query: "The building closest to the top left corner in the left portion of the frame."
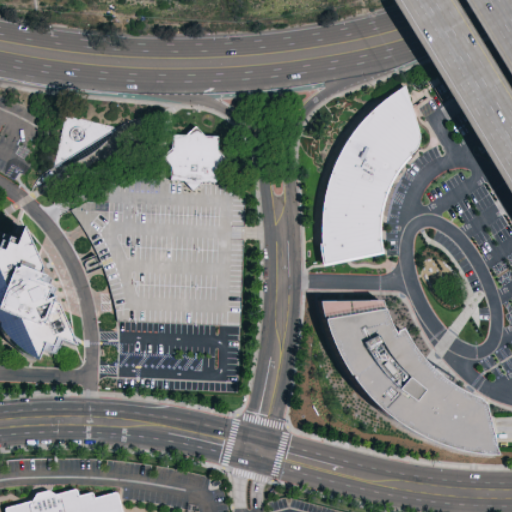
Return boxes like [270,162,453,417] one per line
[55,118,115,173]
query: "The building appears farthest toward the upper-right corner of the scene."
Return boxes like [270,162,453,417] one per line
[322,87,421,265]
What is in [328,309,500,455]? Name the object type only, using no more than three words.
building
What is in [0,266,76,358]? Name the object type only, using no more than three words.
building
